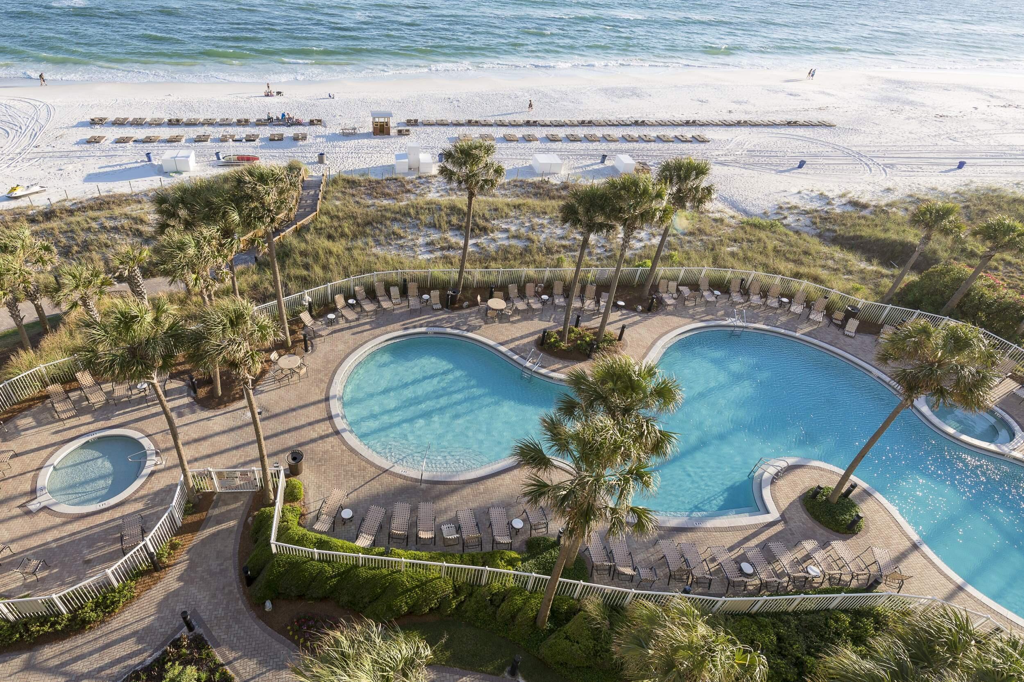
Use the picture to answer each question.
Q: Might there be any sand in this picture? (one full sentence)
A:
Yes, sand can be seen from above here.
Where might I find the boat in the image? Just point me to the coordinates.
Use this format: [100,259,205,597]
[2,181,47,196]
